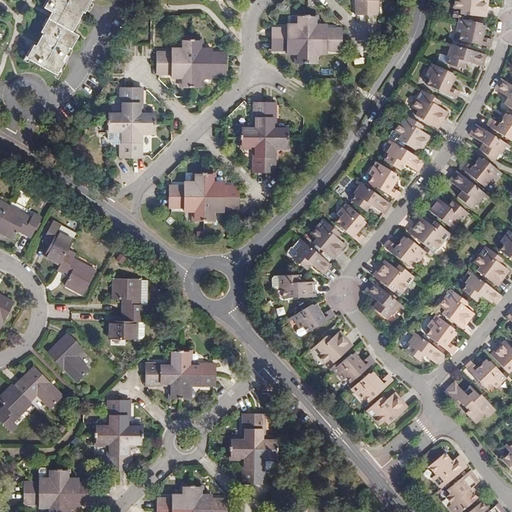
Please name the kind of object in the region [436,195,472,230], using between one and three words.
house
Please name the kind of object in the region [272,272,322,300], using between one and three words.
house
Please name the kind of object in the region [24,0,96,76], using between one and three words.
building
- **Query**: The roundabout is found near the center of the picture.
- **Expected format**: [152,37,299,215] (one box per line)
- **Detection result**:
[181,248,246,322]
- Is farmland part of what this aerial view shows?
No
